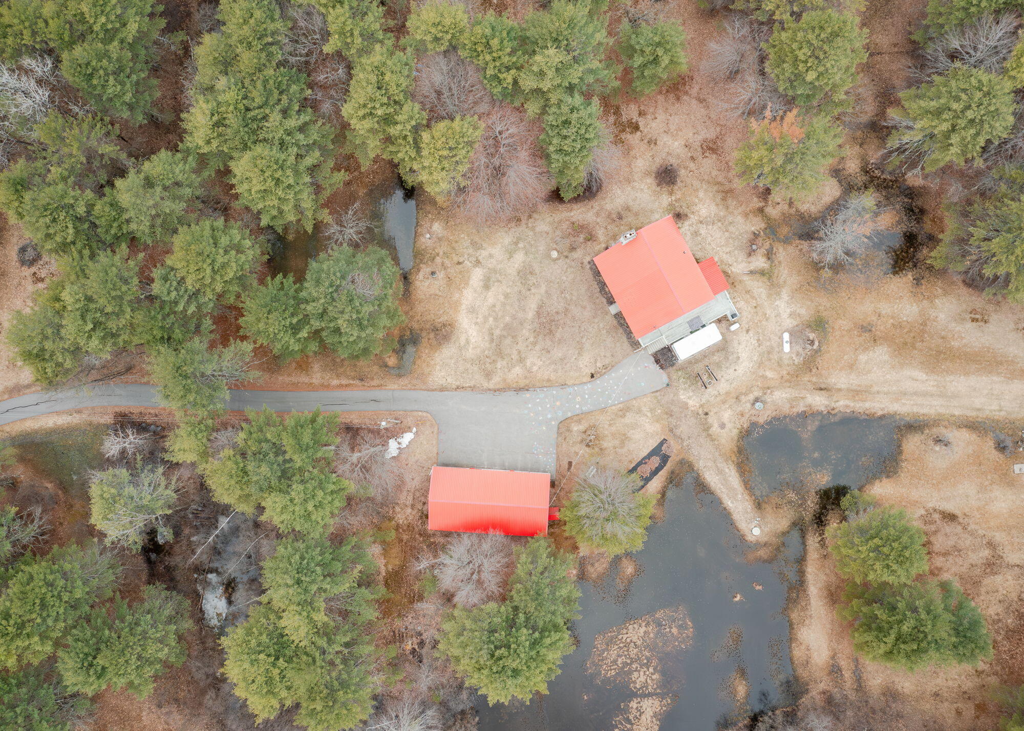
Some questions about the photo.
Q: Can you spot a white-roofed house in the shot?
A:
No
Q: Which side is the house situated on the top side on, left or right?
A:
right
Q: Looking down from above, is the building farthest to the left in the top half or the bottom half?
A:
bottom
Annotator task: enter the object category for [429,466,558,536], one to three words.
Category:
building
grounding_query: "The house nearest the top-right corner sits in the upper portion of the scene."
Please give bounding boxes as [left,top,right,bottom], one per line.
[594,215,742,358]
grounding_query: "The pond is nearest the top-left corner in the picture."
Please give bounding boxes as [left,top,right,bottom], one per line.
[269,227,331,285]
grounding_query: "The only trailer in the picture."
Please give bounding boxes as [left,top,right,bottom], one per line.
[665,324,721,360]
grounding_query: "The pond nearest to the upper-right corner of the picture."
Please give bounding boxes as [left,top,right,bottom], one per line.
[774,225,903,278]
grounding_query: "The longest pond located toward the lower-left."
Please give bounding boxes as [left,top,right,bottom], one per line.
[200,507,276,640]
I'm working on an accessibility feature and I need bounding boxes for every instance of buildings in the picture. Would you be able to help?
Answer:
[429,466,558,536]
[594,215,742,358]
